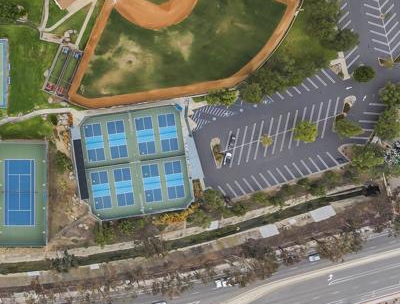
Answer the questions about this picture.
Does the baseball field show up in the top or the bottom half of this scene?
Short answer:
top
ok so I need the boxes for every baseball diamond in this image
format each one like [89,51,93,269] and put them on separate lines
[69,0,300,107]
